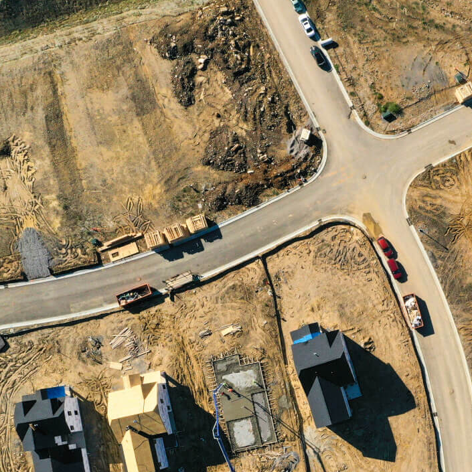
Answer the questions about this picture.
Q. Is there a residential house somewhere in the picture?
Yes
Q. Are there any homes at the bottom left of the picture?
Yes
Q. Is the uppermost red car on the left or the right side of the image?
right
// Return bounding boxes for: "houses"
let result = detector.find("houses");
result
[12,383,87,472]
[291,320,364,428]
[107,370,174,472]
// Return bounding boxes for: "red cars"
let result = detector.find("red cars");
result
[387,255,404,284]
[373,228,393,257]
